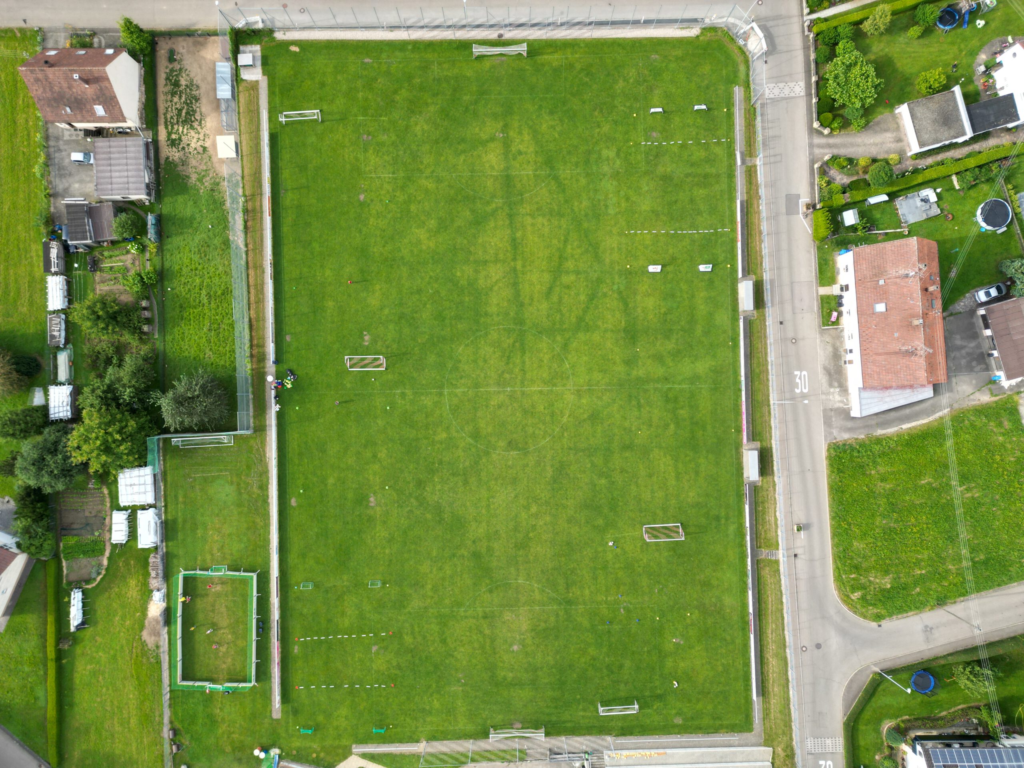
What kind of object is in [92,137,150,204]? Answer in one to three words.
building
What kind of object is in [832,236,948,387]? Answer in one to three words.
house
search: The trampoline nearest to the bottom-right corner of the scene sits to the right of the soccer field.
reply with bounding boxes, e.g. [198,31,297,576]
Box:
[912,670,941,701]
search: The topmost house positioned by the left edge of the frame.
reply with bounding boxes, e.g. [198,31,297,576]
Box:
[19,49,141,129]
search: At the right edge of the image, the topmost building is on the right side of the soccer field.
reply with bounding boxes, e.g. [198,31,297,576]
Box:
[992,37,1024,97]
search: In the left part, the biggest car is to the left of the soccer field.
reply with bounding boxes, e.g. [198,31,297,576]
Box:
[67,149,94,165]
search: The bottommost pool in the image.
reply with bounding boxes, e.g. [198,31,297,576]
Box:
[972,200,1013,233]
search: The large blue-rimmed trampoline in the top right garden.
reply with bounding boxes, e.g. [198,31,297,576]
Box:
[935,5,959,35]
